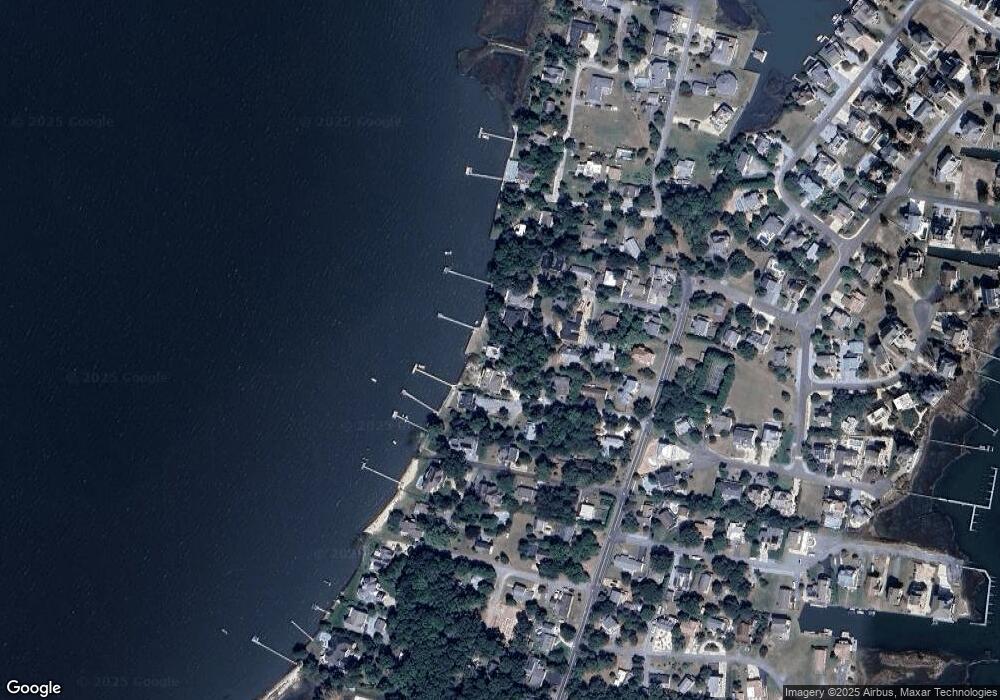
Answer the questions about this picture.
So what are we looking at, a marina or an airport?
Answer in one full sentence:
The picture captures a marina.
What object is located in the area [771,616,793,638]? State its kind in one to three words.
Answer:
house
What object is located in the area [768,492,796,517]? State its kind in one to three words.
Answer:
house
